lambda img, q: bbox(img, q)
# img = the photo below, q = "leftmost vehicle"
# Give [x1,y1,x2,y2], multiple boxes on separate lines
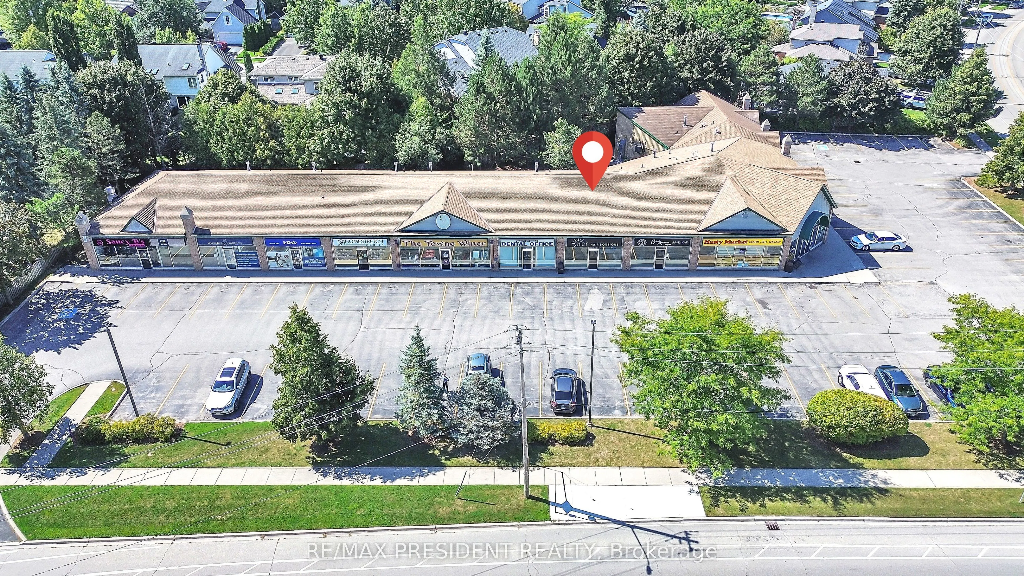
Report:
[210,348,262,407]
